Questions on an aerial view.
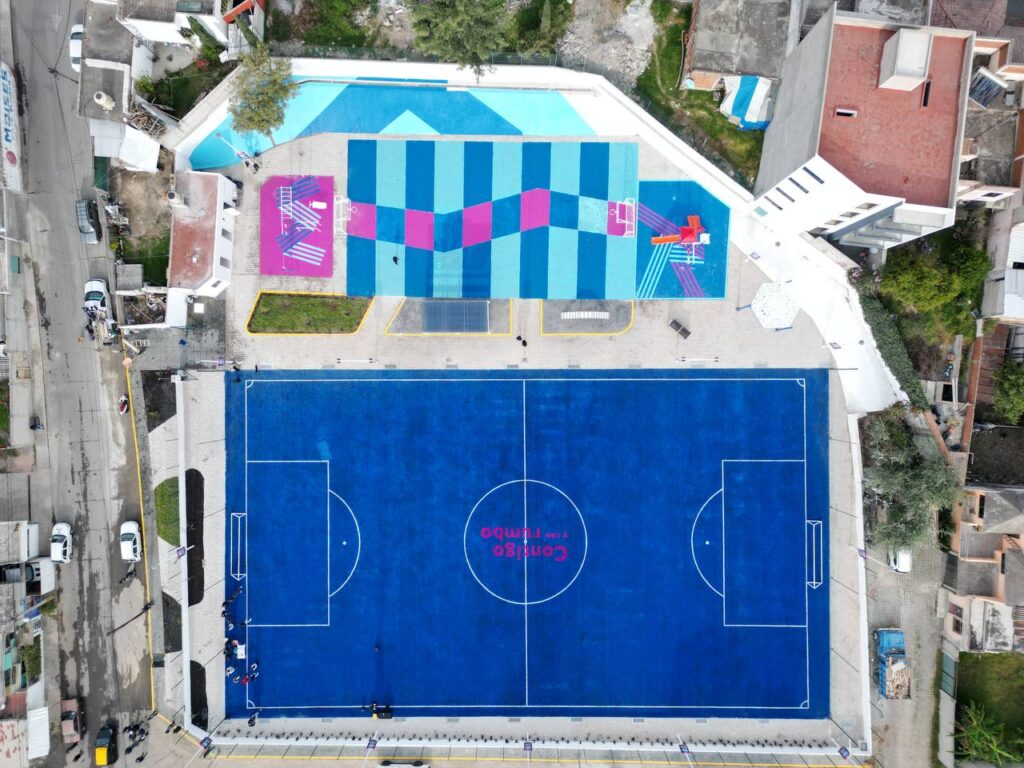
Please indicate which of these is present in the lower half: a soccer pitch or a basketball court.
soccer pitch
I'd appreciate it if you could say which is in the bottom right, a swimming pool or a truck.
truck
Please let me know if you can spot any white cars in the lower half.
Yes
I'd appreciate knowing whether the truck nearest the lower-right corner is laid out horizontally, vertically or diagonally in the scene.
vertically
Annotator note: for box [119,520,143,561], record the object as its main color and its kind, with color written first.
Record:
white car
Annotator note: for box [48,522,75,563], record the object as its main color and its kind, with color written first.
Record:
white car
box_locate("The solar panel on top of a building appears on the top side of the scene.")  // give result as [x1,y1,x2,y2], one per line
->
[970,65,1018,107]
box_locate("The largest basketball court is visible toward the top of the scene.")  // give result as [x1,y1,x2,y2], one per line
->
[346,140,639,299]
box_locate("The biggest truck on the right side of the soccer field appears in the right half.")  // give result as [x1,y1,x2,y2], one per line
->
[875,625,911,705]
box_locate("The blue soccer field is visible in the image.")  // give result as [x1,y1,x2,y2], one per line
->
[226,370,830,719]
